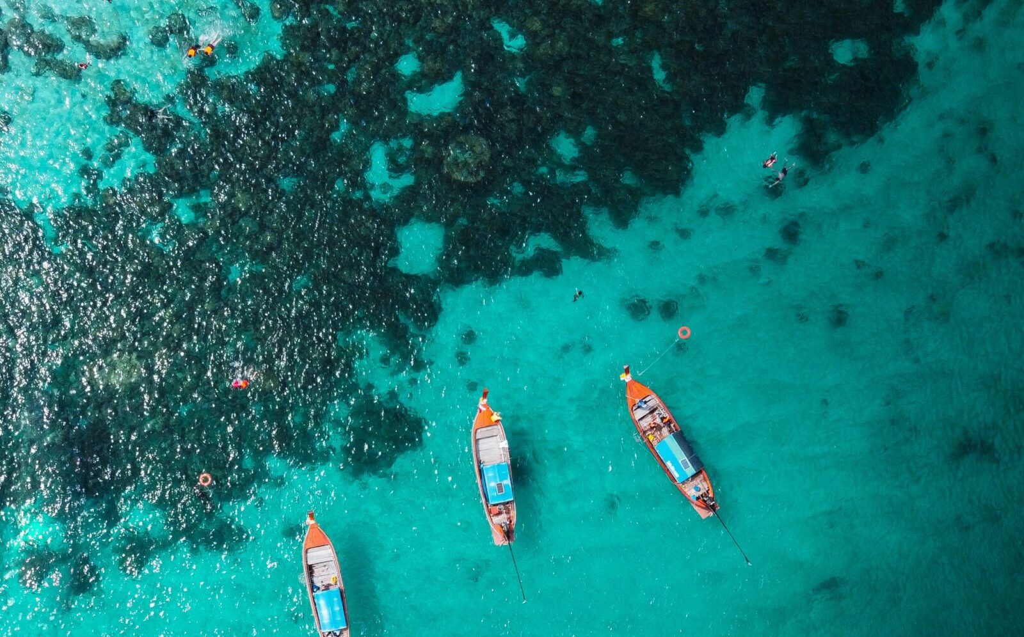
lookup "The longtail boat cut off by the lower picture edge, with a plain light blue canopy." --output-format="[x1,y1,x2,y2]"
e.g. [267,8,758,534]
[301,512,355,637]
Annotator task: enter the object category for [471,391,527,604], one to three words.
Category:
boat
